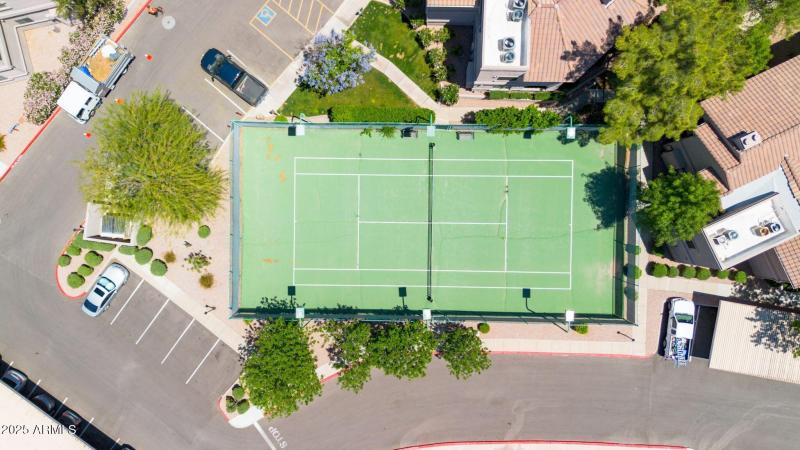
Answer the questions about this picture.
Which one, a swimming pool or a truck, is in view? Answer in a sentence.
The one in the frame is a truck.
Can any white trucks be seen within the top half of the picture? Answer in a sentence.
Yes, a white truck can be seen within the top half of the picture.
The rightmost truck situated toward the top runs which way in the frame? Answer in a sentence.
The rightmost truck situated toward the top runs diagonally in the image.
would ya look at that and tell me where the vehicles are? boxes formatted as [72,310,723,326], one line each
[201,48,272,110]
[662,296,697,362]
[4,367,33,395]
[60,409,87,435]
[84,262,131,316]
[50,36,131,124]
[33,389,59,415]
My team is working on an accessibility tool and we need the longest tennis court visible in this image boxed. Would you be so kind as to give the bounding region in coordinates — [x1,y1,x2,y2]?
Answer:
[241,128,624,317]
